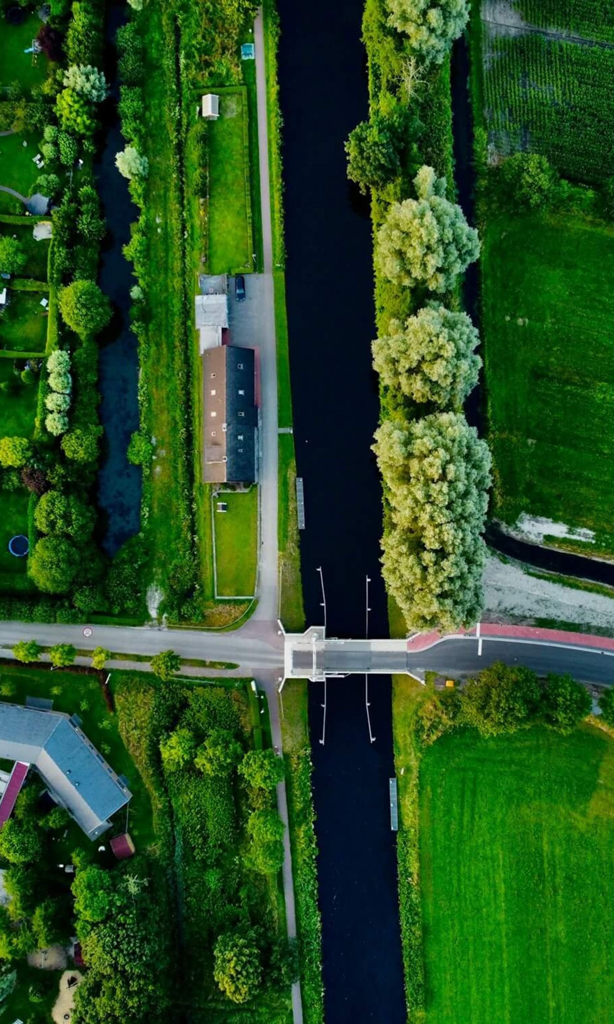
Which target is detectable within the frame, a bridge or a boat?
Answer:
bridge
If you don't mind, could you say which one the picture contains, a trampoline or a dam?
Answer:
trampoline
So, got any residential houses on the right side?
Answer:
No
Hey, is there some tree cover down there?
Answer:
Yes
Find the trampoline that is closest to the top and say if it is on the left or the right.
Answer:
left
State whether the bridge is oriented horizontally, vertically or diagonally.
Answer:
horizontally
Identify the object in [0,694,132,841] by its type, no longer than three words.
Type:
building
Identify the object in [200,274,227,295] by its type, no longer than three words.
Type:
shed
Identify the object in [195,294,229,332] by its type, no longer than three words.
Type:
building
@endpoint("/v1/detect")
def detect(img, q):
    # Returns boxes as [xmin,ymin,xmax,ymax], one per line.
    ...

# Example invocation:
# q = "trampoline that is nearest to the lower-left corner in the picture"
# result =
[9,536,27,556]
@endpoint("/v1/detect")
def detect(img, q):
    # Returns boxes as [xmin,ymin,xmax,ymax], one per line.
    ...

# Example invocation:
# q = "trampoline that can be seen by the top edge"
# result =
[4,4,25,26]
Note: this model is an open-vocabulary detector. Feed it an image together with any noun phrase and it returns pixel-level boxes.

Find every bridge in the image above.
[277,618,426,693]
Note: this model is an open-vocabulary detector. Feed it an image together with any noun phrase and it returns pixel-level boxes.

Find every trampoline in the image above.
[4,4,25,26]
[9,536,27,556]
